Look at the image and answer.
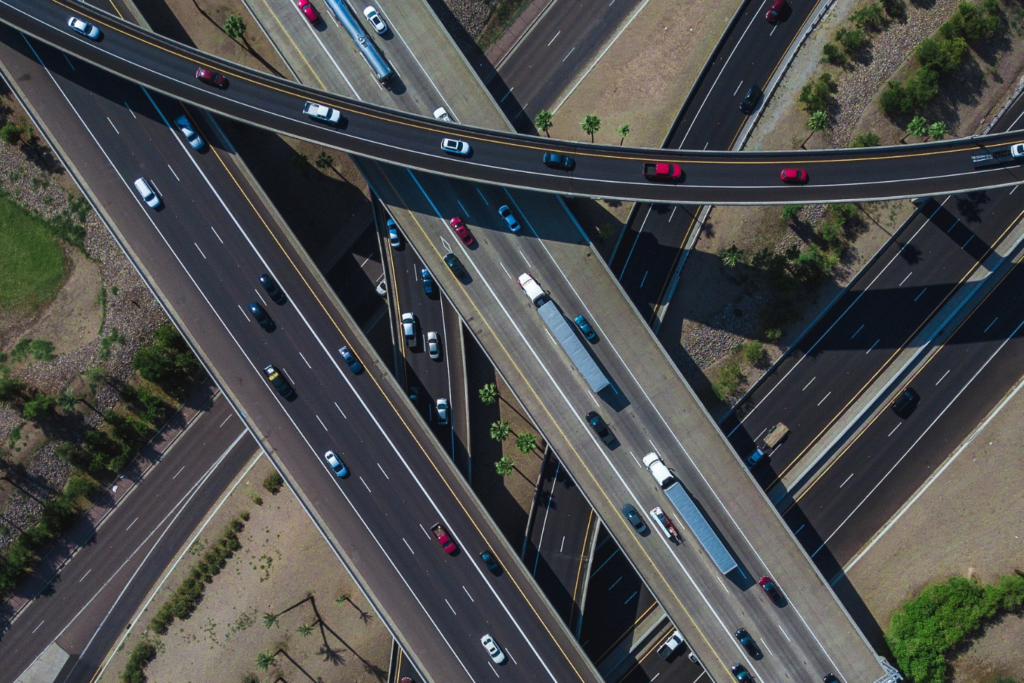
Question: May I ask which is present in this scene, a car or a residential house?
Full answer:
Looking from above, you can make out a car.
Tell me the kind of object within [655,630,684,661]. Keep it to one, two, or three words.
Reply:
truck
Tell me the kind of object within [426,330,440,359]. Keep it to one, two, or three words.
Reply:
car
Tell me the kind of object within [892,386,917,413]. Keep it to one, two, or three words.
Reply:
car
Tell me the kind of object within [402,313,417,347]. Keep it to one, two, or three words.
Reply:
vehicle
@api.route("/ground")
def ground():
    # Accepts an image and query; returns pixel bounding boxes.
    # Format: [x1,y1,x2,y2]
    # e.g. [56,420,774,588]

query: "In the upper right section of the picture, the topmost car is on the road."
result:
[764,0,786,24]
